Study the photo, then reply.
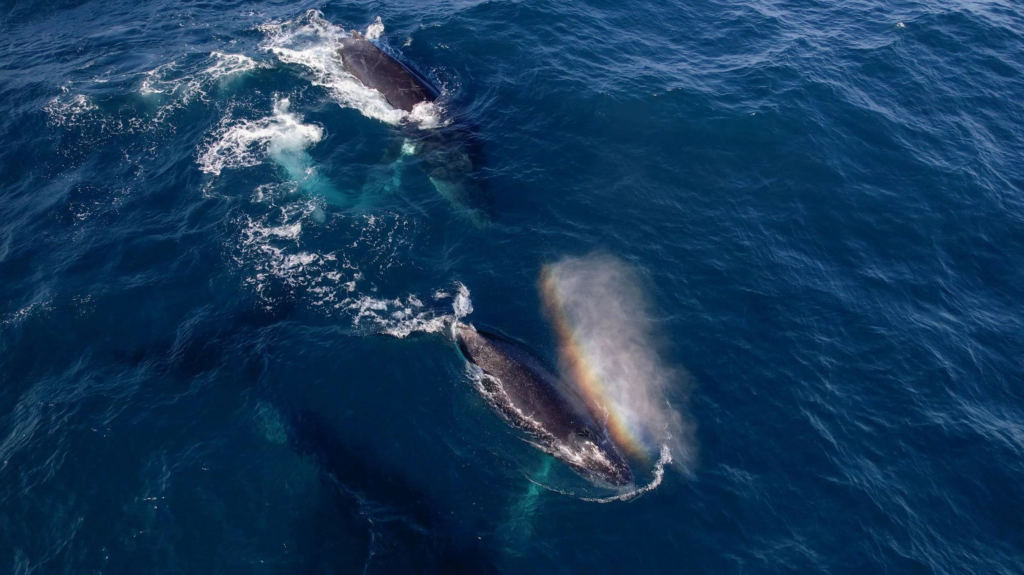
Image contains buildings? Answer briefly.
No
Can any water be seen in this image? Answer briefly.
Yes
